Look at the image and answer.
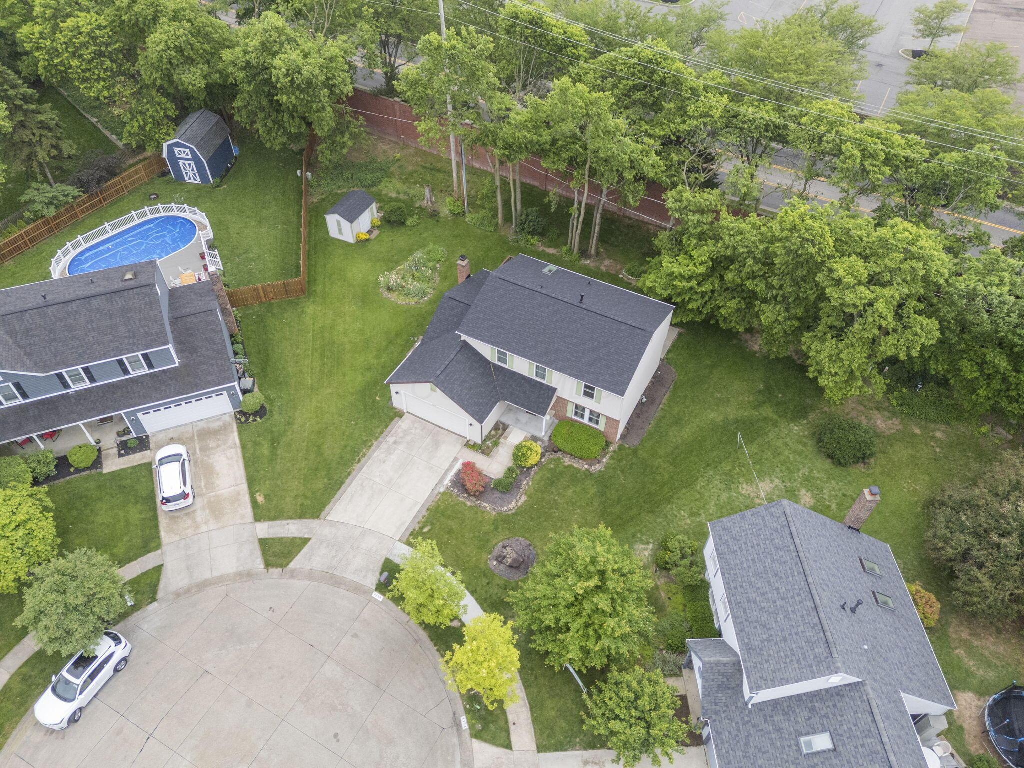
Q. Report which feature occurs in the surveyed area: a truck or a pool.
pool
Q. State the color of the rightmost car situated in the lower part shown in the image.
white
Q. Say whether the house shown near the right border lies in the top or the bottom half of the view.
bottom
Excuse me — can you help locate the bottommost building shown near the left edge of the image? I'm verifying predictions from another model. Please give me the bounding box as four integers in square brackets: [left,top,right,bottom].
[0,256,242,479]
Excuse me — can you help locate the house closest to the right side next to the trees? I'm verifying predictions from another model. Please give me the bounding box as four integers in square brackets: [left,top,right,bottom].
[682,488,973,768]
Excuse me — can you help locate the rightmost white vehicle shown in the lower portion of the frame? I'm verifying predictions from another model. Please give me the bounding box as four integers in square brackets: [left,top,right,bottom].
[154,443,194,506]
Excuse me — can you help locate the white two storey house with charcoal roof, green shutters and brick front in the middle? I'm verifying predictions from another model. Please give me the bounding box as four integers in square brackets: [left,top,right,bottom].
[383,252,680,446]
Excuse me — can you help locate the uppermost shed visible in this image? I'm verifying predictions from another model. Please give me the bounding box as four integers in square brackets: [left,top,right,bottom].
[162,112,233,183]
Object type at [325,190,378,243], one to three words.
shed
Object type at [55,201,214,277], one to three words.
swimming pool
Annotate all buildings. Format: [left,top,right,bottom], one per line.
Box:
[682,488,973,768]
[383,252,680,446]
[0,256,242,479]
[325,190,378,243]
[162,112,233,183]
